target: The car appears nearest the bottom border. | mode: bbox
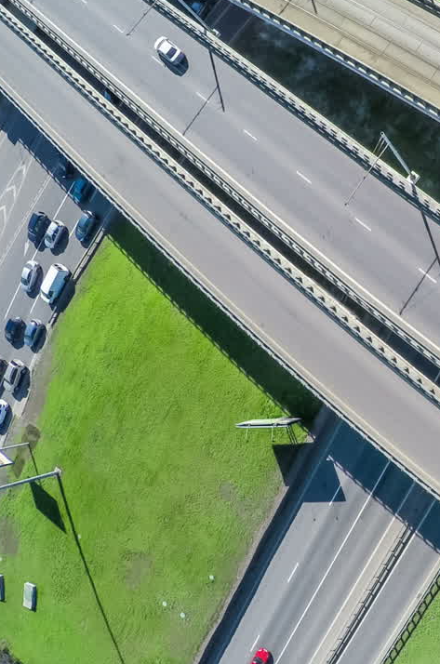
[250,644,271,664]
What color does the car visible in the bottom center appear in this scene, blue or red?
red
